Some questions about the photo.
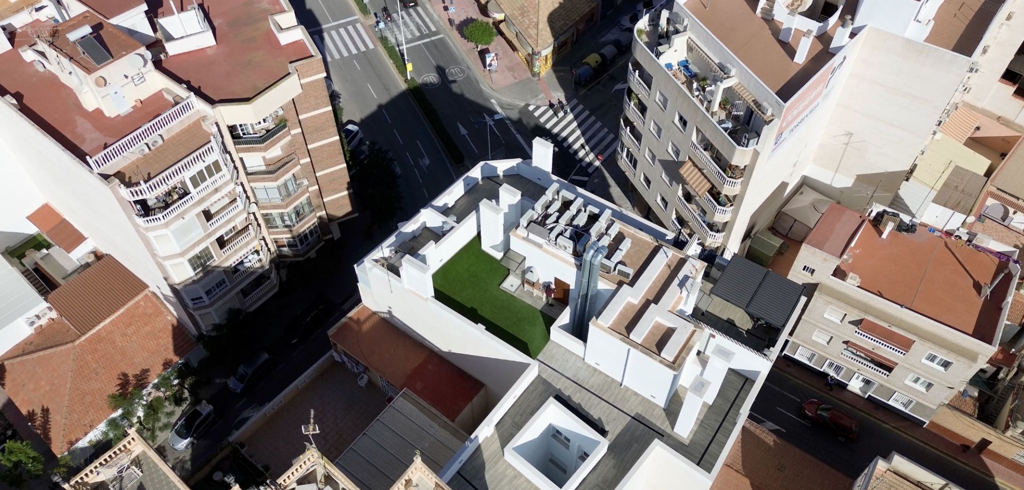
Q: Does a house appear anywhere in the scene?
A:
Yes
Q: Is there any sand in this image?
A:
No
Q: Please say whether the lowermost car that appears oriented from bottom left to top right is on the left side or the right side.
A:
left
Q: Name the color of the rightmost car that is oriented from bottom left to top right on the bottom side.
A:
black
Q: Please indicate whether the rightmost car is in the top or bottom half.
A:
bottom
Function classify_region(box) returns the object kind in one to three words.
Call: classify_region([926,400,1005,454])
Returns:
house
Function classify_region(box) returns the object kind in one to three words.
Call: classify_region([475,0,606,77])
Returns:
building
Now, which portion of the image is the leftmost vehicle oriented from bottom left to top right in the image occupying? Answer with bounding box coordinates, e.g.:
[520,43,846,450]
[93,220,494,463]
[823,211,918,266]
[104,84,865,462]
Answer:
[165,392,219,453]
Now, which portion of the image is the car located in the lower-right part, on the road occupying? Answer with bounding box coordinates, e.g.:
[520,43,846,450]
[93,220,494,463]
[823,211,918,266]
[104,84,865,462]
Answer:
[798,394,866,443]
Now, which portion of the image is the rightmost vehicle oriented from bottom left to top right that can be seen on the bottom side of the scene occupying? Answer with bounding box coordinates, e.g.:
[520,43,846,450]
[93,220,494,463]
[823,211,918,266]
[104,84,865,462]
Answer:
[278,297,330,346]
